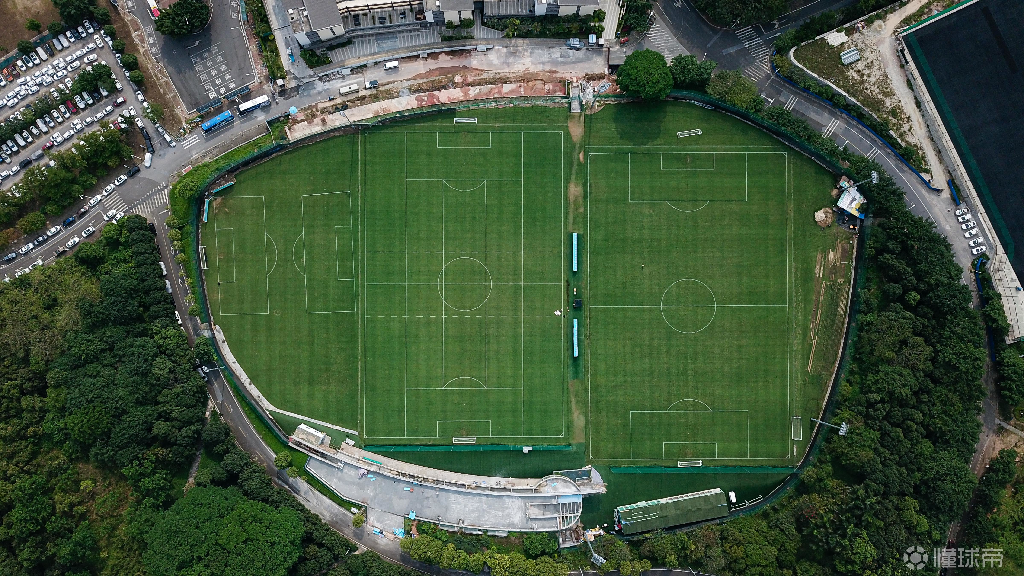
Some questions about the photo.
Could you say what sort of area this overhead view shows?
sports ground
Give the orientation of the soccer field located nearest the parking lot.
vertically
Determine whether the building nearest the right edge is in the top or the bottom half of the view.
top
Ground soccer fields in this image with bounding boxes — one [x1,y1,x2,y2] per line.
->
[586,145,800,471]
[359,114,571,445]
[208,127,358,432]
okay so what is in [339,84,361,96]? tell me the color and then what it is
white vehicle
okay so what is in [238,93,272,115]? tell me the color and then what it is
white bus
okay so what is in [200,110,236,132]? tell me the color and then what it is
blue bus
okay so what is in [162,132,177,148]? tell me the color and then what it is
white car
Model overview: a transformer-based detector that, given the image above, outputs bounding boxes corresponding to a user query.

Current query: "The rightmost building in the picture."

[891,0,1024,292]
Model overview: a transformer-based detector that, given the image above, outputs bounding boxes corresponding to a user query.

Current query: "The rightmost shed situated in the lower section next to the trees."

[616,487,728,534]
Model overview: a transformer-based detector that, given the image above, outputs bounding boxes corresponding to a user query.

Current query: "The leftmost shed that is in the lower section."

[292,422,329,447]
